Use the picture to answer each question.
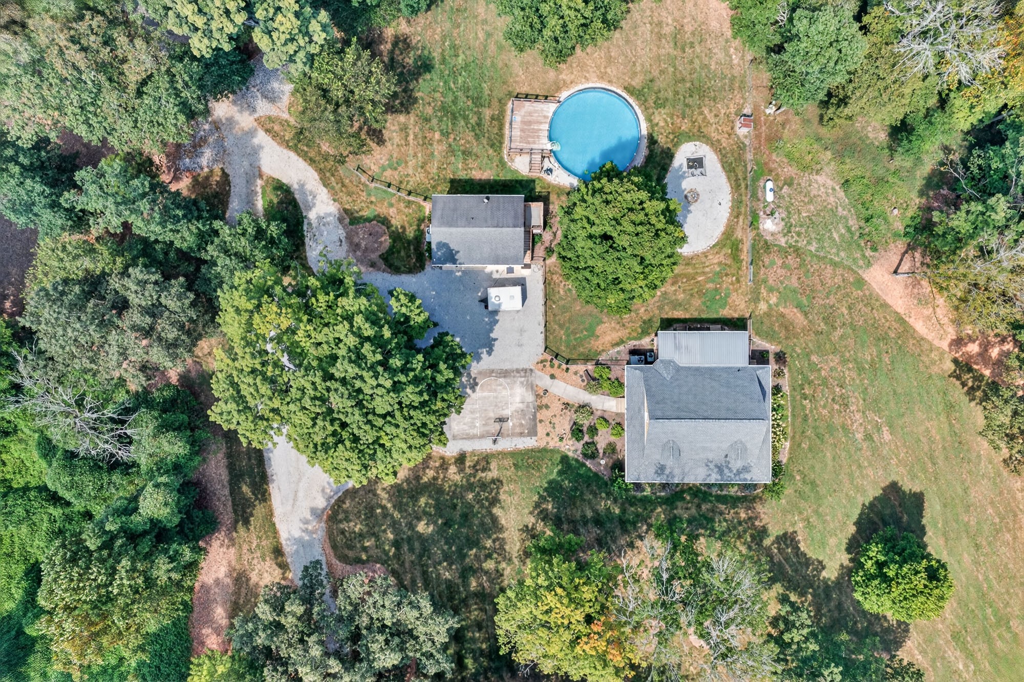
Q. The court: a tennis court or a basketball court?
basketball court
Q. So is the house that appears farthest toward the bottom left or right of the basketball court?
right of it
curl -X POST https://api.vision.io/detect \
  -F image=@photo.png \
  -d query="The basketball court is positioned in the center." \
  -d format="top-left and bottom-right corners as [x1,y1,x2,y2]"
[450,369,537,438]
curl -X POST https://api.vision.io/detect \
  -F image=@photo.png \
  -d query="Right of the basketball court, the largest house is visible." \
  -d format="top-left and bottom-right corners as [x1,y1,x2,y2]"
[624,326,772,483]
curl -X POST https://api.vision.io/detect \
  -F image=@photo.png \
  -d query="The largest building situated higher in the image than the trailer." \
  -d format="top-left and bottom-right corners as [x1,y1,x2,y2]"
[430,194,543,269]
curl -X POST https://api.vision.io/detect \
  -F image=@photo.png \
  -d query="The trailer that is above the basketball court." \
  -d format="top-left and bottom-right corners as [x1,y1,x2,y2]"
[479,286,523,312]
